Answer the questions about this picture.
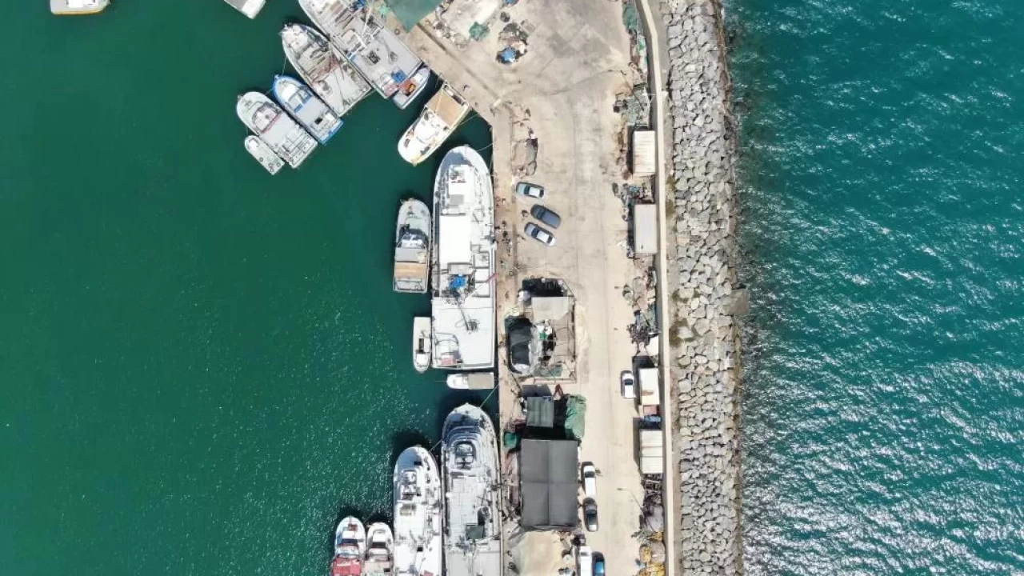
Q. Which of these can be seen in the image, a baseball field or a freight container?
freight container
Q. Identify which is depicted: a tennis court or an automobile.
automobile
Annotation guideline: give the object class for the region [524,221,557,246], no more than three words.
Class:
car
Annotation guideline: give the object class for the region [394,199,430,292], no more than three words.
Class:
boat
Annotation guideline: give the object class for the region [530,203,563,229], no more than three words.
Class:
car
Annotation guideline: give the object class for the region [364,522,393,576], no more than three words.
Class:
boat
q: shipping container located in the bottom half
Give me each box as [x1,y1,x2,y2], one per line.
[637,426,663,474]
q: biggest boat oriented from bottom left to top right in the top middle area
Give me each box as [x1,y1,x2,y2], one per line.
[404,79,470,166]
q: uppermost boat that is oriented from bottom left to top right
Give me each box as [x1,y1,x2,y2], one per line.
[396,66,431,109]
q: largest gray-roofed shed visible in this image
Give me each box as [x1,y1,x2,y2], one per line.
[519,433,578,530]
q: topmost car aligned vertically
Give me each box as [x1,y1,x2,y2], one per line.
[622,371,636,401]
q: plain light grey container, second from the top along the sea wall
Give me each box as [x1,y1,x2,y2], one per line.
[631,204,657,255]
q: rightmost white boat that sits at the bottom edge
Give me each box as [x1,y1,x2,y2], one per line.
[440,402,504,576]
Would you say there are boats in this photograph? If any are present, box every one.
[50,0,114,17]
[413,314,430,373]
[404,79,470,166]
[447,372,494,389]
[433,144,498,370]
[333,514,365,576]
[396,66,431,109]
[238,92,318,168]
[227,0,265,21]
[273,74,346,146]
[394,199,430,292]
[281,20,373,118]
[364,522,393,576]
[303,0,422,97]
[385,445,441,576]
[440,402,504,576]
[245,136,285,176]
